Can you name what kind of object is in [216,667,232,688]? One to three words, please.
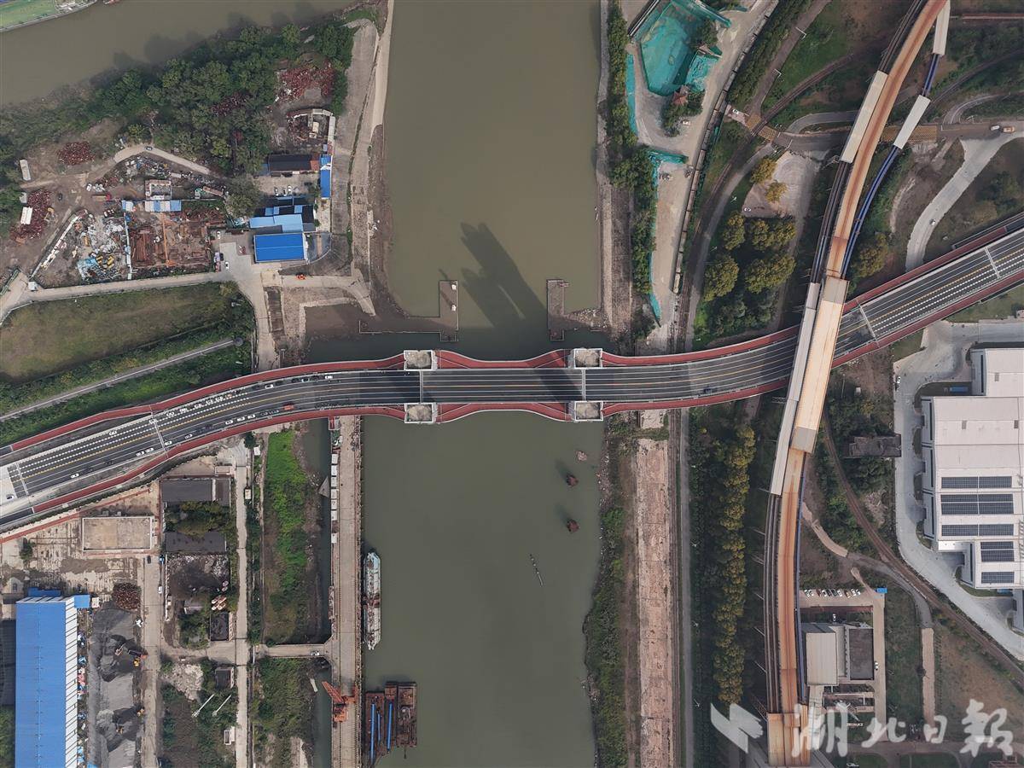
house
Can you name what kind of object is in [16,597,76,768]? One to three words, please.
building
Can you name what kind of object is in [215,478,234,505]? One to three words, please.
building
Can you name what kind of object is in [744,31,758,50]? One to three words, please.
rail car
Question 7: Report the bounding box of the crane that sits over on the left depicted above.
[321,673,358,722]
